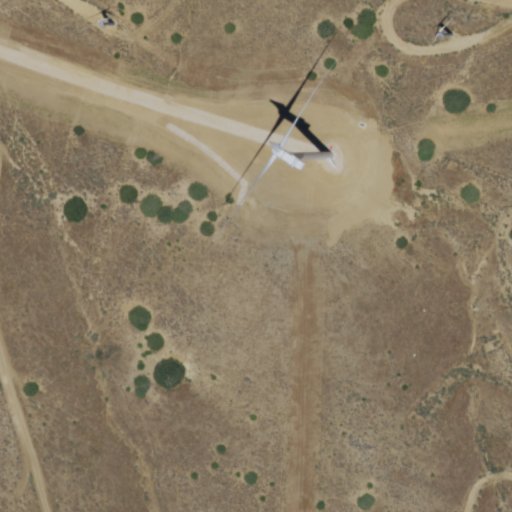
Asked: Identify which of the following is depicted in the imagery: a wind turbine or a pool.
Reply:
wind turbine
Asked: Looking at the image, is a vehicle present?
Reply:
No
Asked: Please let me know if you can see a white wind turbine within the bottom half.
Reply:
No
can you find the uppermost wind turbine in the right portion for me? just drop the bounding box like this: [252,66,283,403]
[428,16,455,44]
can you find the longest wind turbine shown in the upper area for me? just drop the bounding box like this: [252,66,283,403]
[222,58,340,236]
